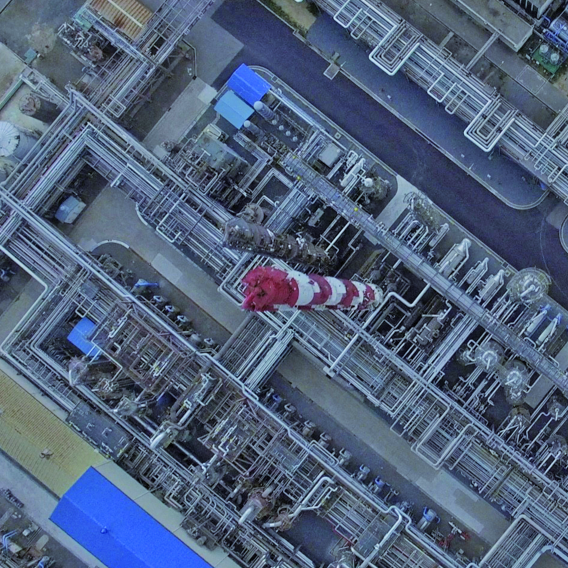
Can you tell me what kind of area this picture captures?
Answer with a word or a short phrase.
industrial area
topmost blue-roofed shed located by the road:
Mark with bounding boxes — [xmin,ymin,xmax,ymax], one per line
[227,62,277,108]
